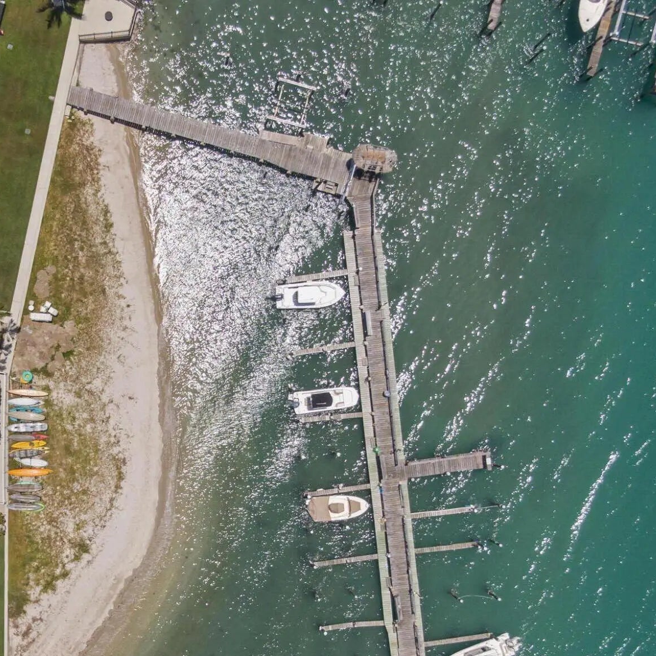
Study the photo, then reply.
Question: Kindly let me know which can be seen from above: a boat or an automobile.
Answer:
boat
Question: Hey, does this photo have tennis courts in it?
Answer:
No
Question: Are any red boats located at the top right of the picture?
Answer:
No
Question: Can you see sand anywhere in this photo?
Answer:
Yes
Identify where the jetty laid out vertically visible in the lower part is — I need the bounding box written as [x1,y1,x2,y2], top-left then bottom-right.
[340,230,426,656]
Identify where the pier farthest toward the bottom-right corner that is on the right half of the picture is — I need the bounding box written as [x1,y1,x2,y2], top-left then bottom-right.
[425,629,491,646]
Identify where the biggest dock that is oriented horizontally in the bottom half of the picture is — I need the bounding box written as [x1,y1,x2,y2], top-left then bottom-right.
[389,451,494,482]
